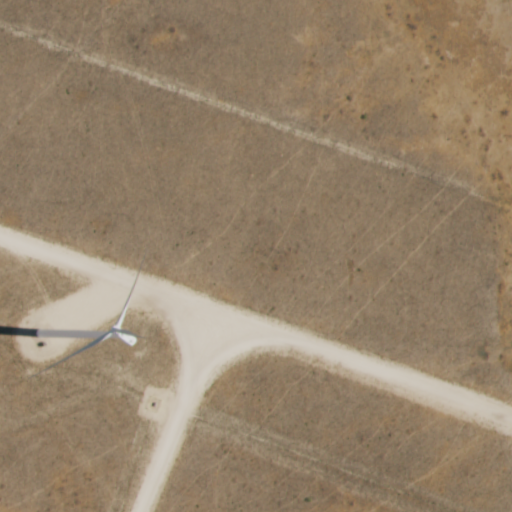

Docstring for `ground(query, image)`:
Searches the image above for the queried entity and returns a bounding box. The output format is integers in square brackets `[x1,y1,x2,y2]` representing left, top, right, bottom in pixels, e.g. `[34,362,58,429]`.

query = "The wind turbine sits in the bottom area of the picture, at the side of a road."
[33,254,156,381]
